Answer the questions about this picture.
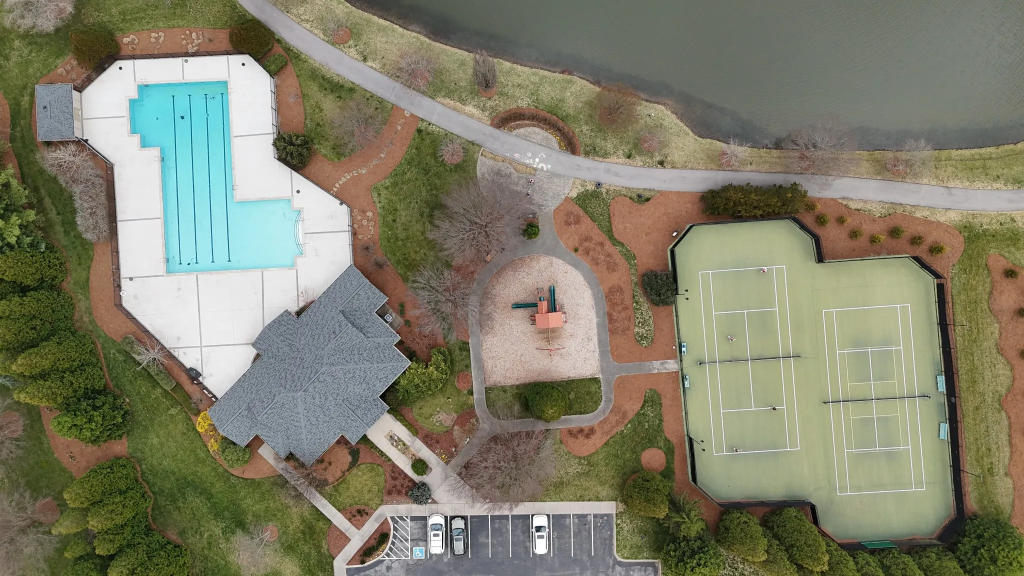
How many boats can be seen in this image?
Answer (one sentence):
Not a single boat can be seen.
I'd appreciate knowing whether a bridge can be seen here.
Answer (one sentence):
No, no bridge can be seen from above.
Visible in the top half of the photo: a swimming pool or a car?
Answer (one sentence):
Looking in the top half of the photo, you will find a swimming pool.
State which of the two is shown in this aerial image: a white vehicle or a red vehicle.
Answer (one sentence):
Looking from above, you can make out a white vehicle.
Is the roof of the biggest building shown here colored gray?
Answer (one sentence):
Yes, the roof of the biggest building appears gray.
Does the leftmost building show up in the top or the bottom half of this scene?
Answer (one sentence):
The leftmost building is in the top half of the image.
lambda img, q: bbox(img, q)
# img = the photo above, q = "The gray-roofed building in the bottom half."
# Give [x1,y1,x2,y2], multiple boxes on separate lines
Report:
[207,264,412,467]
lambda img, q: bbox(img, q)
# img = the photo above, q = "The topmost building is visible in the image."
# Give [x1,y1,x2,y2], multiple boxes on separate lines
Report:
[35,83,85,142]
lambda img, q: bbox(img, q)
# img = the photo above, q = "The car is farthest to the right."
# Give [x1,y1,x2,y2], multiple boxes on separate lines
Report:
[531,514,550,555]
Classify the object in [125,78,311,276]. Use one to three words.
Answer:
swimming pool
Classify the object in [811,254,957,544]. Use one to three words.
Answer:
tennis court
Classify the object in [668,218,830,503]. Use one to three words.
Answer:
tennis court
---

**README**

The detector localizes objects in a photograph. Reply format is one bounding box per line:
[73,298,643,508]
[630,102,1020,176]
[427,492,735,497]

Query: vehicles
[449,517,467,557]
[427,513,446,555]
[531,514,550,555]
